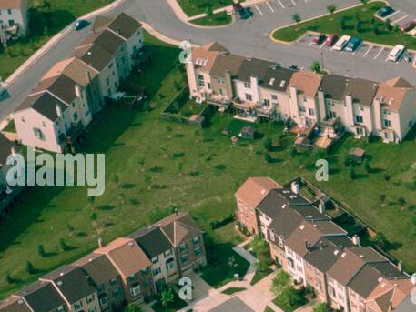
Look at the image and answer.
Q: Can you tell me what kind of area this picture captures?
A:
residential area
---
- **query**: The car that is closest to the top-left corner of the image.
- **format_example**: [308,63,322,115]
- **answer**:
[72,16,91,29]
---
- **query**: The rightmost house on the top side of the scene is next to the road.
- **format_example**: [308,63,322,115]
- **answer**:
[370,76,416,144]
